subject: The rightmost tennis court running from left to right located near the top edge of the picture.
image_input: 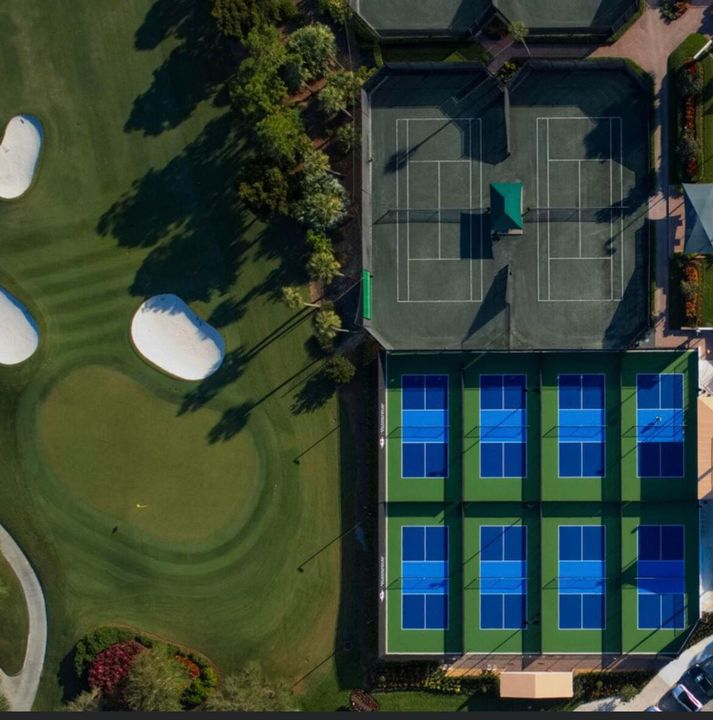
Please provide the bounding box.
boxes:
[494,0,635,26]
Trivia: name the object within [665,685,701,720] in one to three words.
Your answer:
car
